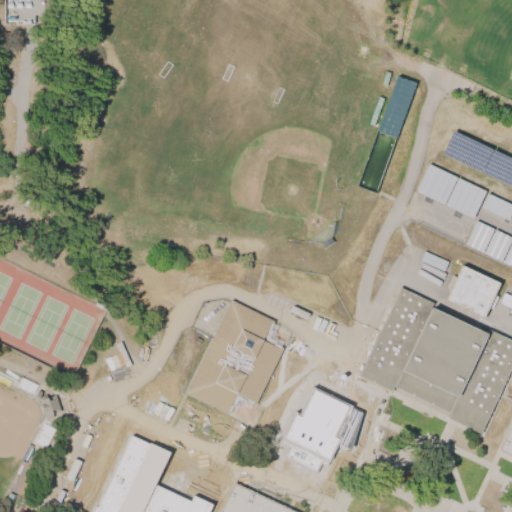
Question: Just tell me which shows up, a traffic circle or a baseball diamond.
baseball diamond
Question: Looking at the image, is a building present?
Yes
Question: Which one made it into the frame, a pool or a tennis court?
tennis court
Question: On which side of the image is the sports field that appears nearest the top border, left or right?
right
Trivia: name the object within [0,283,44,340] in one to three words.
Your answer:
tennis court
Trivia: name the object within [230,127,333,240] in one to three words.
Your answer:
baseball field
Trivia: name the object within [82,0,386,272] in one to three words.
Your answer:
sports field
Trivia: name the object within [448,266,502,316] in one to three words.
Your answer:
building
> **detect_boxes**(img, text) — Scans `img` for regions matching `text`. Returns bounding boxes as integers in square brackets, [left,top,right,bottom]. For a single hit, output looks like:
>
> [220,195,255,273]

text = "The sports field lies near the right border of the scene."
[405,0,512,100]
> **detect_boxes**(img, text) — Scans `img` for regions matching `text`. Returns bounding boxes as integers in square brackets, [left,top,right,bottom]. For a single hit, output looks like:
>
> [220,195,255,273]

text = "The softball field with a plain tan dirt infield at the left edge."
[0,386,41,504]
